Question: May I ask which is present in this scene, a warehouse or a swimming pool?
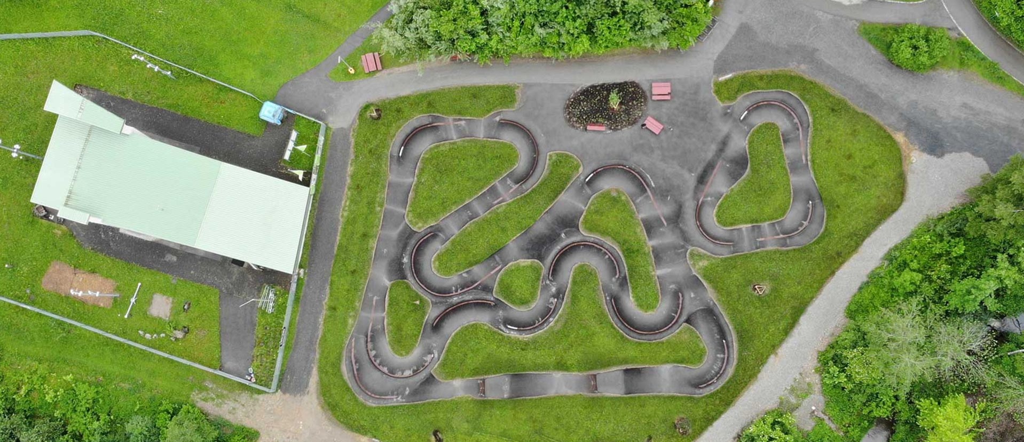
warehouse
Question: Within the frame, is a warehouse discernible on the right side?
No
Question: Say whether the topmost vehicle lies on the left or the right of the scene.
left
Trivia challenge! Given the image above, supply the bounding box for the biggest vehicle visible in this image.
[258,100,291,127]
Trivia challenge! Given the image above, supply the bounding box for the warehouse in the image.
[30,79,314,274]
